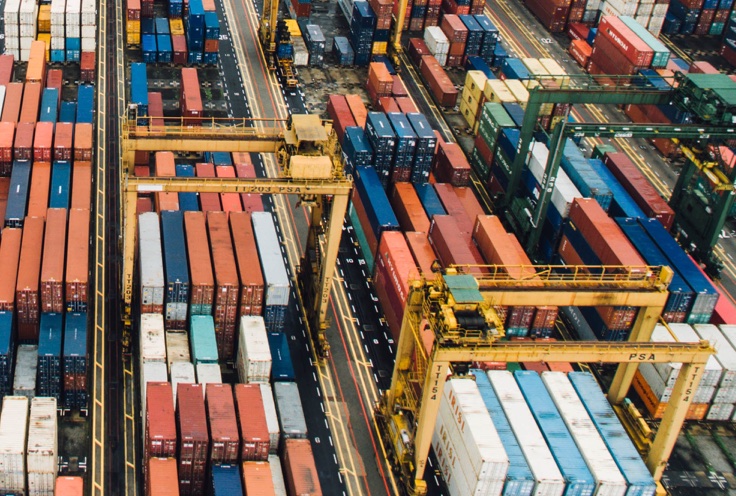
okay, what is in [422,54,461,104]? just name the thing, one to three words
shipping container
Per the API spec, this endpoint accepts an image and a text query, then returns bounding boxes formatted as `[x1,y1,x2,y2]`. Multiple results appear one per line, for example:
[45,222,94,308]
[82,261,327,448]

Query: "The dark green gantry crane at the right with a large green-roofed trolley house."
[496,65,736,275]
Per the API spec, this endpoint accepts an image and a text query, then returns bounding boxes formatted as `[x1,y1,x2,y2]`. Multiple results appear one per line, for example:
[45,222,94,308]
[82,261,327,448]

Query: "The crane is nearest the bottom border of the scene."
[378,262,720,496]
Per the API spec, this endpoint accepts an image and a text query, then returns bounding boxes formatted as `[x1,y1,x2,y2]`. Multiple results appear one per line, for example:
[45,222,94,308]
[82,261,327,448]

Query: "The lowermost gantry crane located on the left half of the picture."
[114,113,358,367]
